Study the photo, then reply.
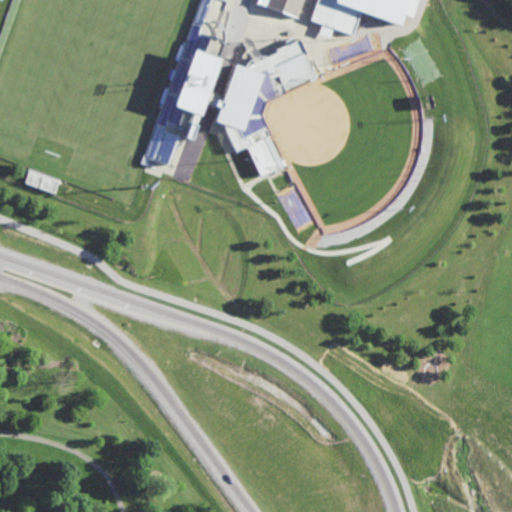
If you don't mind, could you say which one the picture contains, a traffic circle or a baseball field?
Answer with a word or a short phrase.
baseball field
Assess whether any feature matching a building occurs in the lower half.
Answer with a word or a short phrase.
No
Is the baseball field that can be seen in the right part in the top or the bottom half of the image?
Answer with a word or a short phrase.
top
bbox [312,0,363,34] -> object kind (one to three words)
building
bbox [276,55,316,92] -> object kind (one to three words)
building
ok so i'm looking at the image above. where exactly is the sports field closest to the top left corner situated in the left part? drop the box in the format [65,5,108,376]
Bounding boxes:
[0,0,191,205]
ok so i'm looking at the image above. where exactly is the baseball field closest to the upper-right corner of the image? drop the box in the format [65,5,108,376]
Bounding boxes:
[263,47,422,247]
